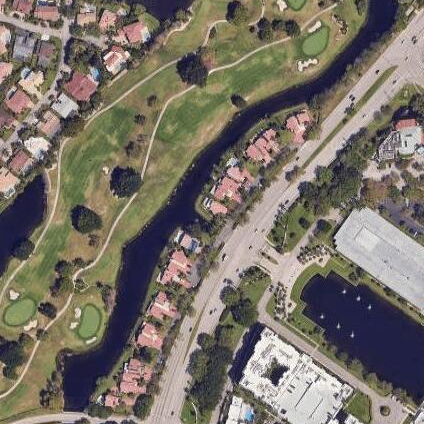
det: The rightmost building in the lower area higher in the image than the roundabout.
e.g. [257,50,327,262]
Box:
[335,207,424,310]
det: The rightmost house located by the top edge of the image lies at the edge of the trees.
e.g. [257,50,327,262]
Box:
[124,20,150,45]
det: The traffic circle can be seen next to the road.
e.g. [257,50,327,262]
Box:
[368,395,403,424]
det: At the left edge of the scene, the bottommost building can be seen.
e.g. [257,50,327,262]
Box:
[0,168,20,194]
